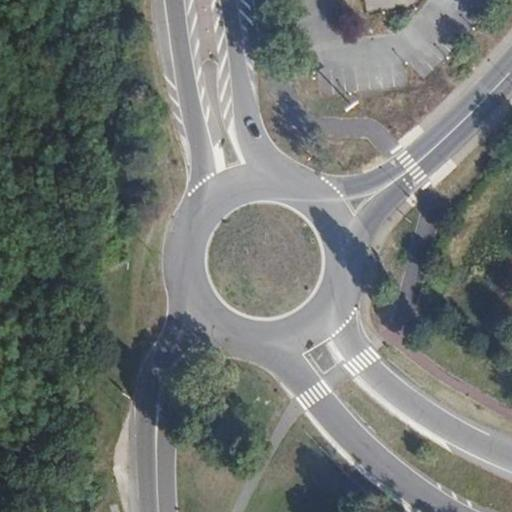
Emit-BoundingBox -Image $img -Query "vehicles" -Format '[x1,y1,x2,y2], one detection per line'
[244,118,262,139]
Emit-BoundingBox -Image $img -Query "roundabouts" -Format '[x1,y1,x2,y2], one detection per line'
[164,0,374,382]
